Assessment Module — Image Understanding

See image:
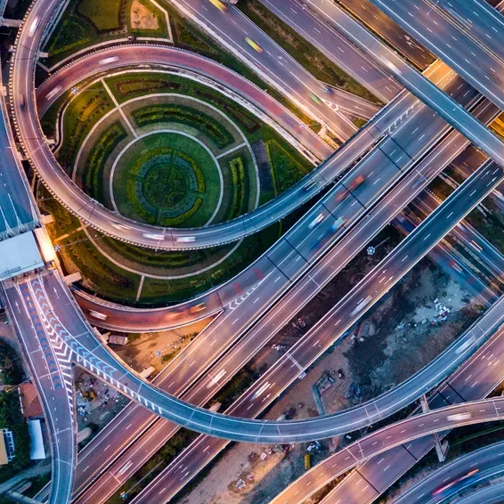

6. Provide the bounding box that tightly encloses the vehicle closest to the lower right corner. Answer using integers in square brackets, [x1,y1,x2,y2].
[441,474,466,494]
